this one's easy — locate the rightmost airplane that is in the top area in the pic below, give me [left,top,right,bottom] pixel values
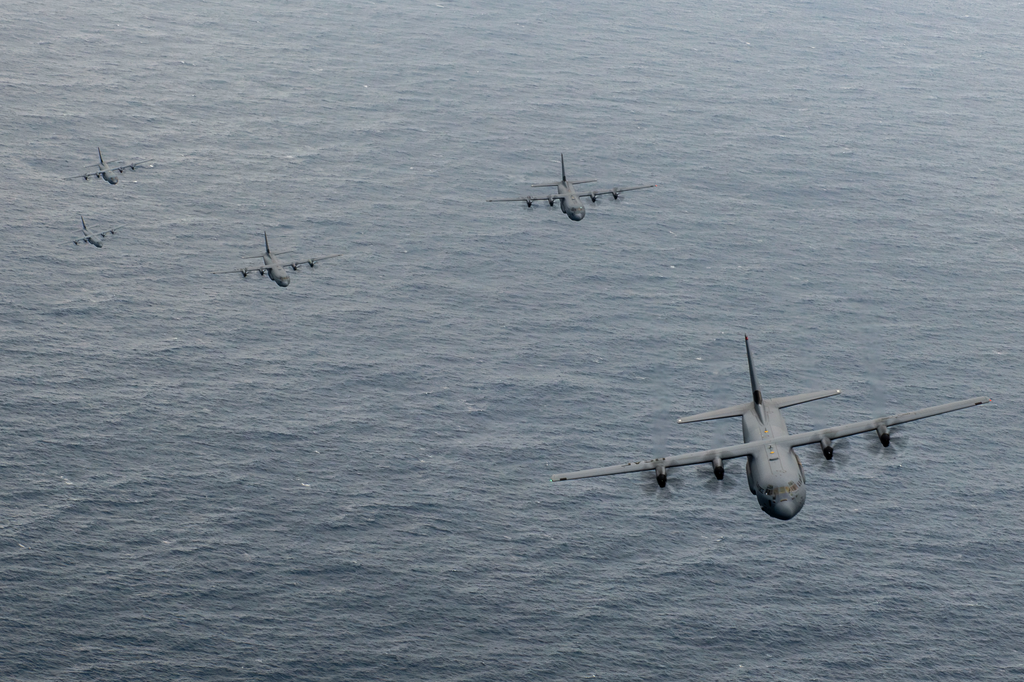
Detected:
[485,153,656,221]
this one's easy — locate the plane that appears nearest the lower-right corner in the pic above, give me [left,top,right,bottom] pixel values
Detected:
[550,331,990,521]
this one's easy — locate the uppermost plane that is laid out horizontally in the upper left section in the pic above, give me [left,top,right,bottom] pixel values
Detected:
[61,146,153,184]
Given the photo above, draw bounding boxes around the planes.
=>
[550,331,990,521]
[485,153,656,221]
[56,215,128,247]
[61,146,153,184]
[209,230,342,287]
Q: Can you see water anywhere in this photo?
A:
Yes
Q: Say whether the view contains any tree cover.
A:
No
